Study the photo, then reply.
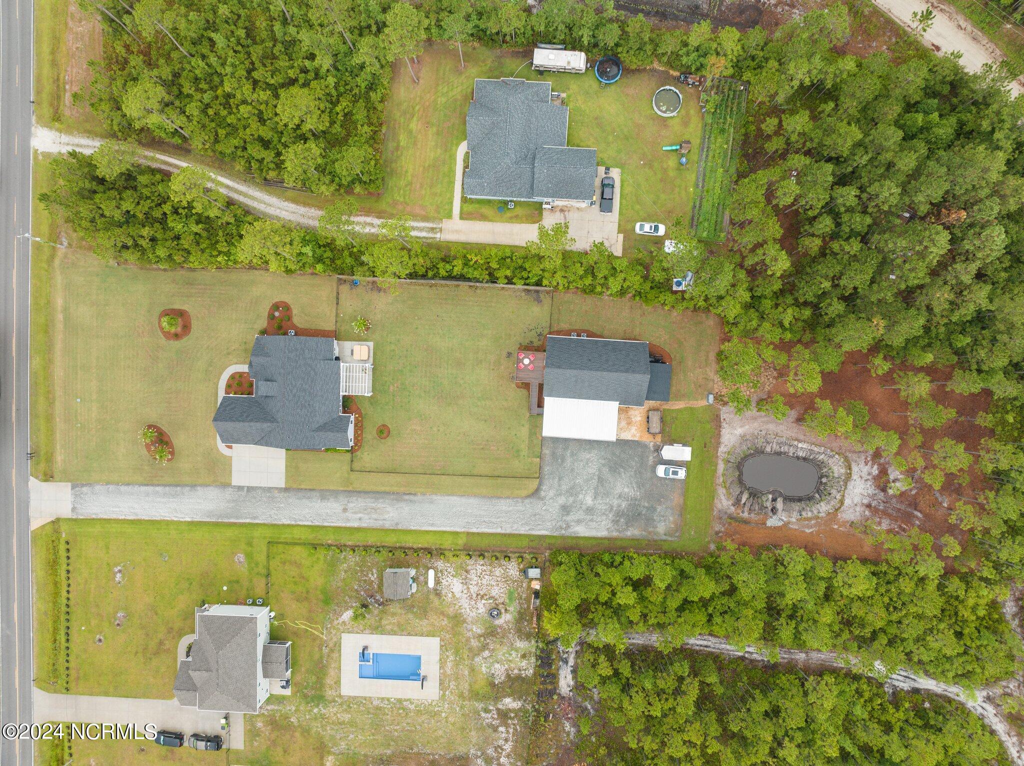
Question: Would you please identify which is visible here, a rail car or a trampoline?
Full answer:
I can see a trampoline in this picture.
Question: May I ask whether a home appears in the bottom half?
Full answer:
Yes, a home is visible in the bottom half.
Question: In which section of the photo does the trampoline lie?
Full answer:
The trampoline is located in the top region of the scene.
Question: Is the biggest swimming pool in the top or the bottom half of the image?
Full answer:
Seen from above, the biggest swimming pool lies in the bottom half of the view.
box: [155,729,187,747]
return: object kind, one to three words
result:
car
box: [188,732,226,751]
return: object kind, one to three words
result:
vehicle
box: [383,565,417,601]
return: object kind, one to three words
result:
shed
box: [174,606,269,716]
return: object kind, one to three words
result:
house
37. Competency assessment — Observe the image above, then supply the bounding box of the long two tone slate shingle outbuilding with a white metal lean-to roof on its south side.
[542,335,672,442]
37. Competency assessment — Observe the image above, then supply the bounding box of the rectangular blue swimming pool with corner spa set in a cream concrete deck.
[341,634,440,700]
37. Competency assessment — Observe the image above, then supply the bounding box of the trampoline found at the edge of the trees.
[594,51,624,91]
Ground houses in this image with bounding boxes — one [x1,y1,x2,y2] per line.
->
[463,76,598,205]
[542,335,672,442]
[174,606,269,716]
[212,333,355,450]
